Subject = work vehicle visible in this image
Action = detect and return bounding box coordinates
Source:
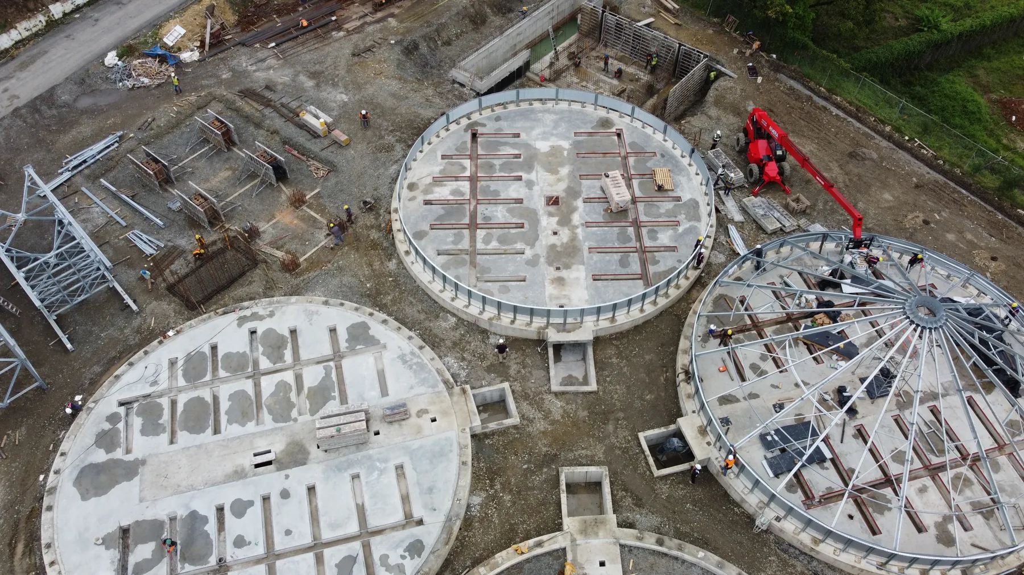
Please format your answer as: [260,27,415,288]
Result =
[728,104,875,270]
